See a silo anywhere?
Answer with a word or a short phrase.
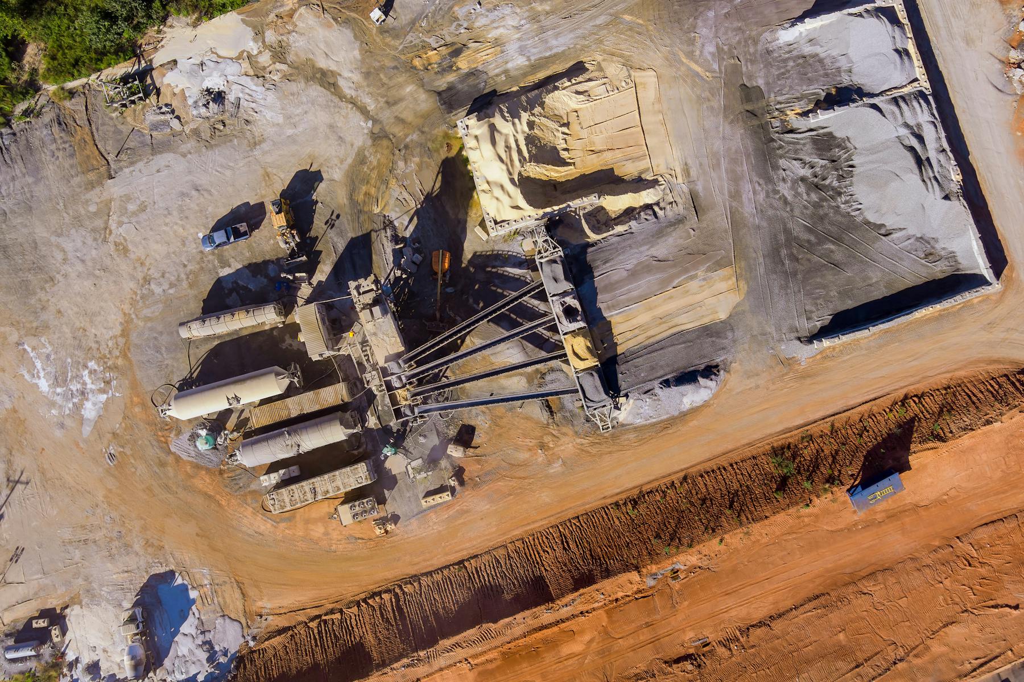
Yes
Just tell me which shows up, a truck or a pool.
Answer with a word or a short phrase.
truck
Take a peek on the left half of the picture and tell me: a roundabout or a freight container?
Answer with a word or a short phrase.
freight container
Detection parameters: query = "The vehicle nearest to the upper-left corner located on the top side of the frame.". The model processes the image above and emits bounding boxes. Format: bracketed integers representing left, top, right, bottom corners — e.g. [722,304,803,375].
[200,225,255,255]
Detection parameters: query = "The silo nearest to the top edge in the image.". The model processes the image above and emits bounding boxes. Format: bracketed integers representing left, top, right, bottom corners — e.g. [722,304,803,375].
[159,362,307,420]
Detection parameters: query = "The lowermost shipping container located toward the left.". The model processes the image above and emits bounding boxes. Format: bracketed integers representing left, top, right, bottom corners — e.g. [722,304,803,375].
[249,380,353,429]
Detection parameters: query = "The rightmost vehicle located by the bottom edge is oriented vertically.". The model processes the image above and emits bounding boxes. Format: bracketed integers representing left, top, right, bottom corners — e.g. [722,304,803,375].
[117,598,154,682]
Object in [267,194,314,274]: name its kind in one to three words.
work vehicle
